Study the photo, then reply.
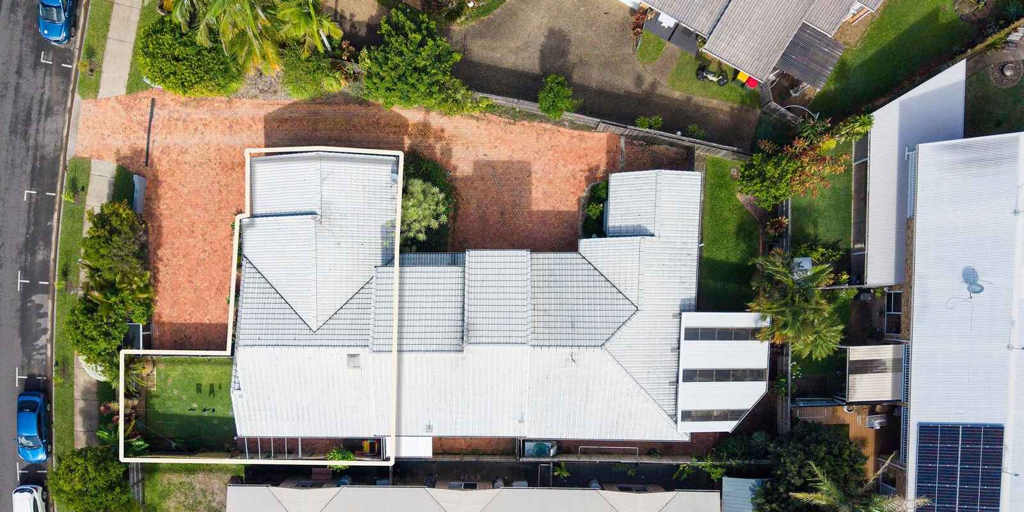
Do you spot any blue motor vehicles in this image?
Yes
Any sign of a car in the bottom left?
Yes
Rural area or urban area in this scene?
urban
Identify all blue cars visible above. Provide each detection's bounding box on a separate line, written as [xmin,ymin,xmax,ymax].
[13,391,55,465]
[32,0,74,45]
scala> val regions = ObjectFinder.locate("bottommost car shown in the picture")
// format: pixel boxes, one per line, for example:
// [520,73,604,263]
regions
[11,484,51,512]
